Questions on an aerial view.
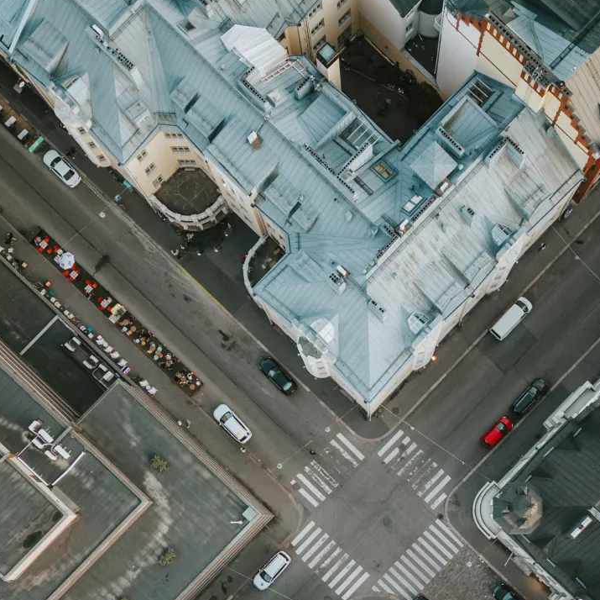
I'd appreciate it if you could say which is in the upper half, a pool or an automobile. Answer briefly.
automobile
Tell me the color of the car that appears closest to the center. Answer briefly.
black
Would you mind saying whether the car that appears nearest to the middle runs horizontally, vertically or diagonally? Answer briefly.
diagonally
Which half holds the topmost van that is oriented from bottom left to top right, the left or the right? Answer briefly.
right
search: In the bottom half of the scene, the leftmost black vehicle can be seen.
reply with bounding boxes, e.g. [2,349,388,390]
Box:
[256,352,302,397]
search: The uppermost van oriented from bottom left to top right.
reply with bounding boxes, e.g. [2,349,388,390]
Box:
[487,295,535,344]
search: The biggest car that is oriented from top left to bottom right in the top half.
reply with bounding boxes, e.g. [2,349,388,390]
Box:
[39,145,85,194]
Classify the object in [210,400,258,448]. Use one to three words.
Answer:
car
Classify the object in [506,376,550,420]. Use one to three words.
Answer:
car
